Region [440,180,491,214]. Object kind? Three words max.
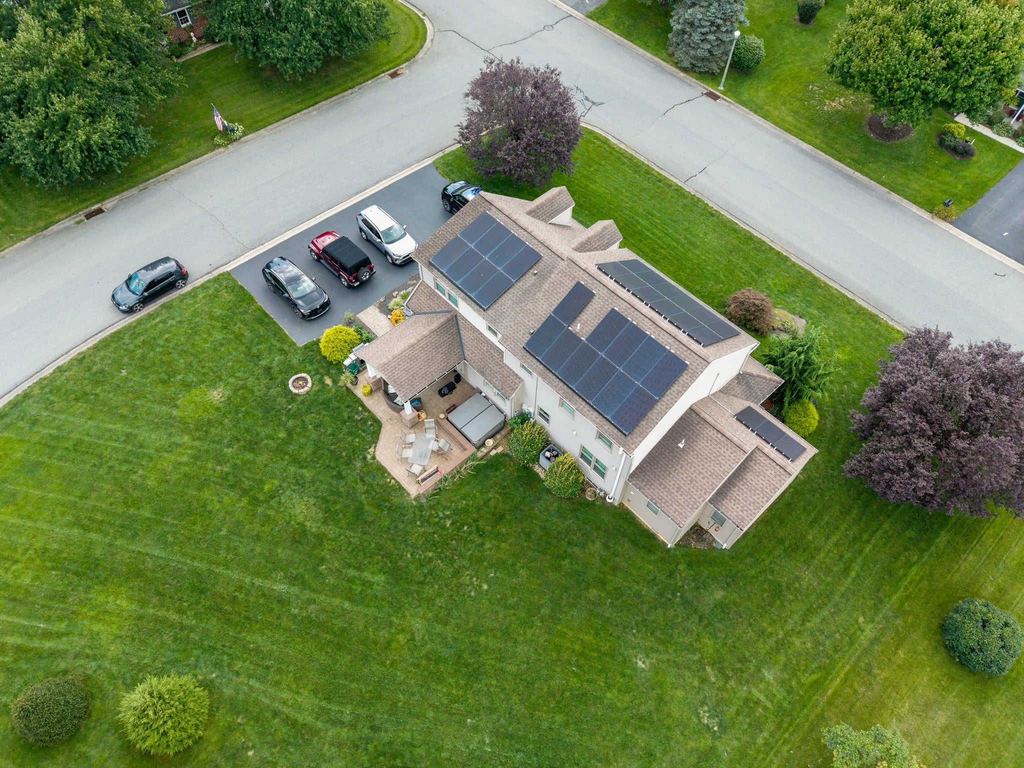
car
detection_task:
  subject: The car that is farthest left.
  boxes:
[110,256,191,314]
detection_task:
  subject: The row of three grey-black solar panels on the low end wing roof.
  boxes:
[734,405,806,461]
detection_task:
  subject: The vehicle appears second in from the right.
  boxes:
[355,205,420,266]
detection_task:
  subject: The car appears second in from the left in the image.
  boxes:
[260,258,332,322]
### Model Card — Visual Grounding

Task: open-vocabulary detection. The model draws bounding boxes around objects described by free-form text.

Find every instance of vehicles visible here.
[440,180,491,214]
[260,258,332,322]
[355,205,420,266]
[307,230,378,289]
[110,256,191,314]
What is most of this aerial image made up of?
grass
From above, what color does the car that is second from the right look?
white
